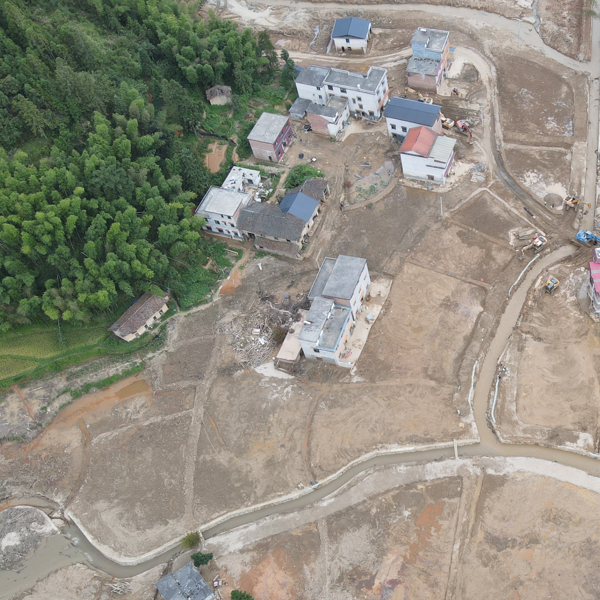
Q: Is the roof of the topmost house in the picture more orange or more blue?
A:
blue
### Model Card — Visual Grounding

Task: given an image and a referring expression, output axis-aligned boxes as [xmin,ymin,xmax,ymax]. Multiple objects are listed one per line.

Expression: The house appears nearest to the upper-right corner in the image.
[406,26,454,93]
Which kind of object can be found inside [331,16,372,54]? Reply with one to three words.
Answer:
house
